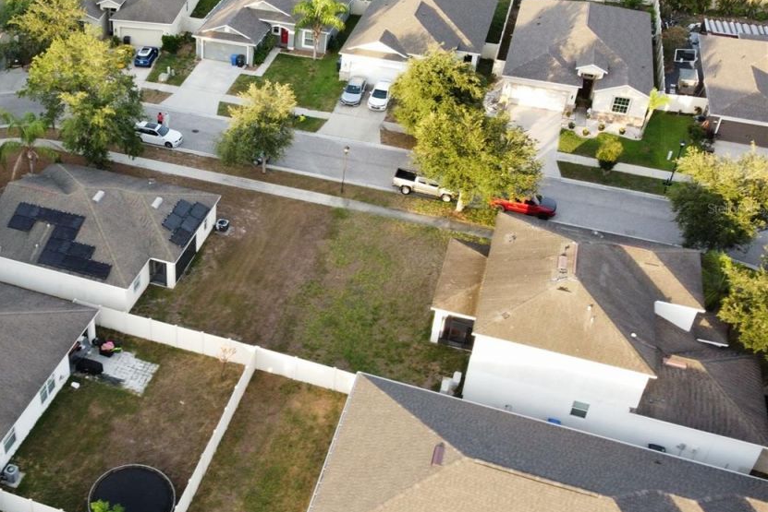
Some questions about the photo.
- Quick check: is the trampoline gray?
No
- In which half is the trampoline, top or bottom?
bottom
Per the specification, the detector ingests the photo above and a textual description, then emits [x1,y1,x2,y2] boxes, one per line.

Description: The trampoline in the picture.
[88,467,176,512]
